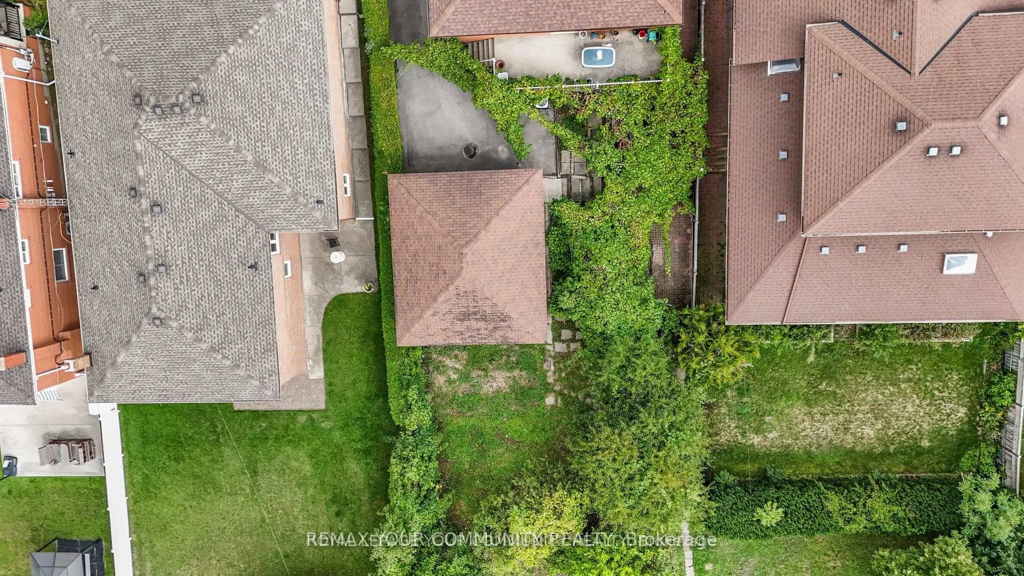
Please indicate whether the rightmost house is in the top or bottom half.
top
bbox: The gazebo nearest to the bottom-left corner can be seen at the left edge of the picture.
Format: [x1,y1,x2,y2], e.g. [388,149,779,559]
[30,534,108,576]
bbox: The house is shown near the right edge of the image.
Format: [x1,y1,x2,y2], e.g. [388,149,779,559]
[721,0,1024,327]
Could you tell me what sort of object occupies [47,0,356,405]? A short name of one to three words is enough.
house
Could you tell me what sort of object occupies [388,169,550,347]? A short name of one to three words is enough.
building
